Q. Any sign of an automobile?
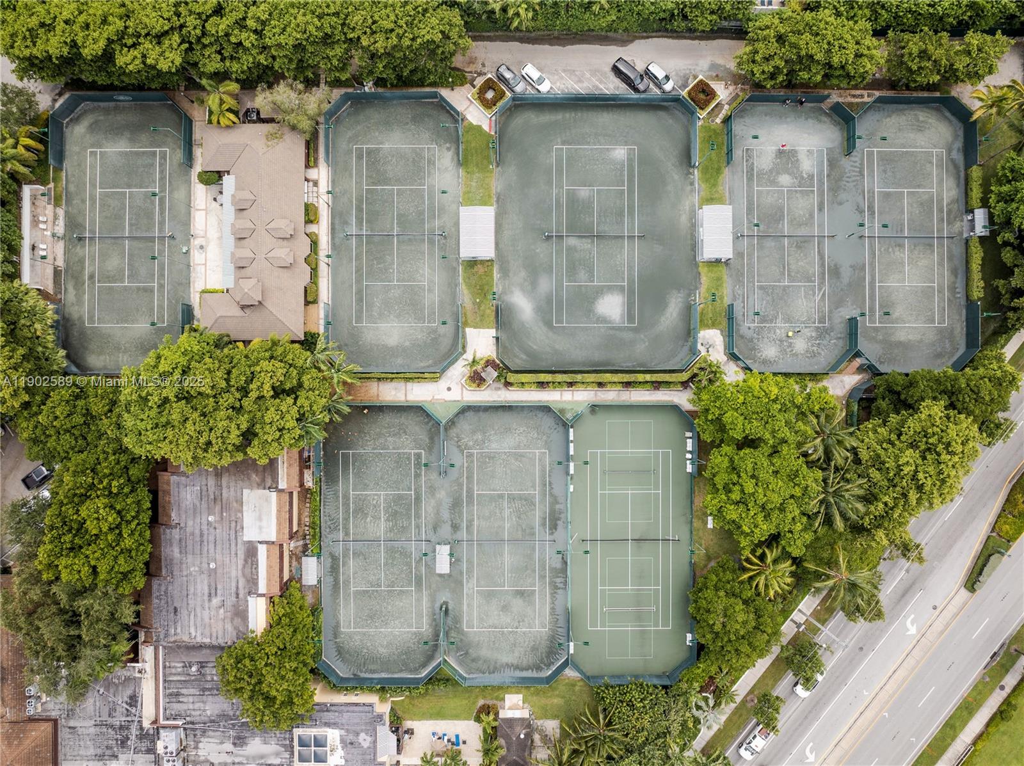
Yes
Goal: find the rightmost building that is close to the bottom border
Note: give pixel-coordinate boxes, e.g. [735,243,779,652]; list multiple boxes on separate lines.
[497,688,532,766]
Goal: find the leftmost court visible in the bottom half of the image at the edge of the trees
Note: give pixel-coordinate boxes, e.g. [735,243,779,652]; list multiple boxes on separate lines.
[321,404,443,676]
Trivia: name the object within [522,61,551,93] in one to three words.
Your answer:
car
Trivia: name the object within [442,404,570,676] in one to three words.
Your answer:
tennis court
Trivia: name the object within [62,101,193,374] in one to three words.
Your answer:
tennis court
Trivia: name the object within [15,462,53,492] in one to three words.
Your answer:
truck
